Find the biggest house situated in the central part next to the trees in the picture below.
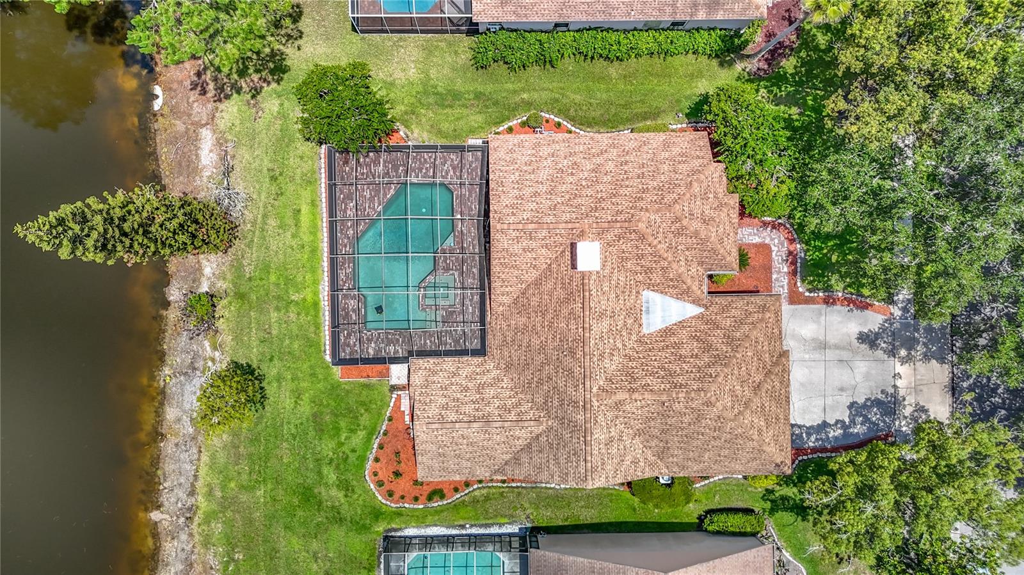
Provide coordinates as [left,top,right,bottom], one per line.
[410,132,793,488]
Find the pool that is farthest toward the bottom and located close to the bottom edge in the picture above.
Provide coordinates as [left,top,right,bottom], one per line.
[405,554,505,575]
